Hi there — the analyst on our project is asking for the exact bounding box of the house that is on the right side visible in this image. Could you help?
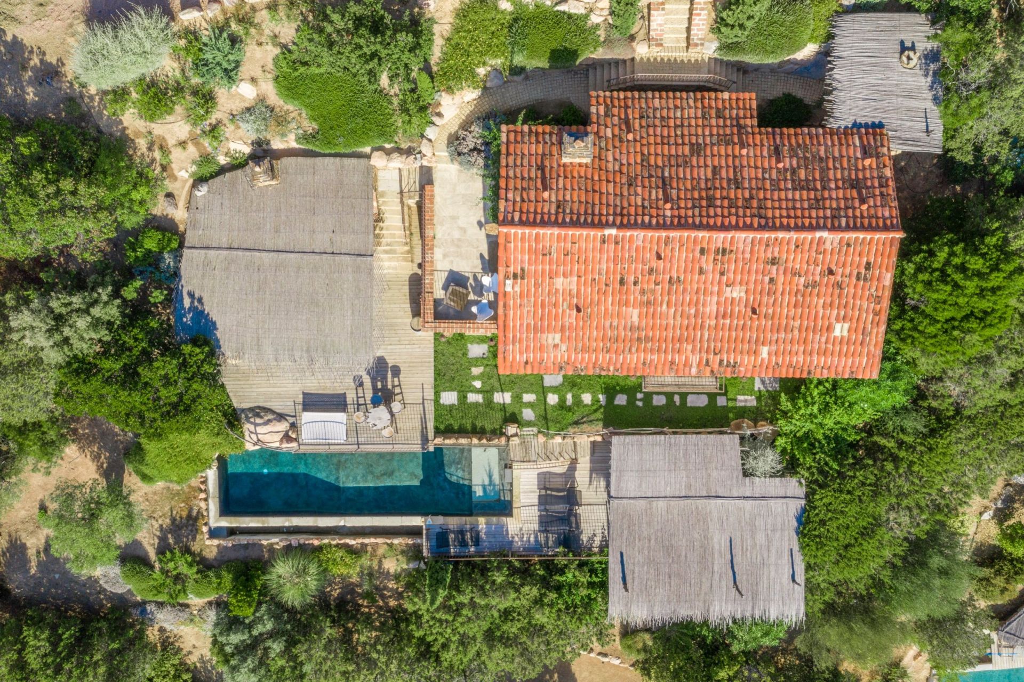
[496,88,907,382]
